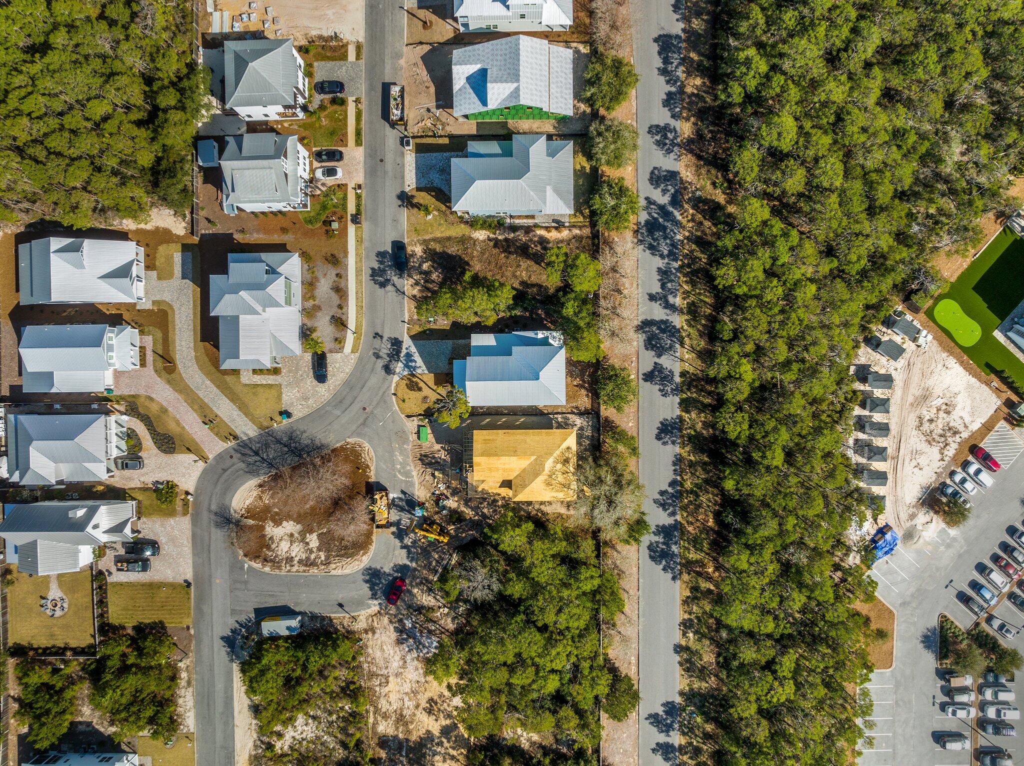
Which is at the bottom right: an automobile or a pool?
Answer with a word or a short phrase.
automobile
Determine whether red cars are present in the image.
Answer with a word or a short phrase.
Yes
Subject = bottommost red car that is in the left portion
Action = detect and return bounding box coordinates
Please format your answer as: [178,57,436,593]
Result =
[385,575,407,608]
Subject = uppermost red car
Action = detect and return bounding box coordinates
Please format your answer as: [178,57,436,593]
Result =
[970,443,1005,473]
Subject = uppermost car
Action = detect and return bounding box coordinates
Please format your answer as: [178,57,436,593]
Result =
[315,79,345,95]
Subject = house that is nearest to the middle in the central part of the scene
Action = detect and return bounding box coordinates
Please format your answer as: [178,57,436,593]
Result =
[453,331,566,406]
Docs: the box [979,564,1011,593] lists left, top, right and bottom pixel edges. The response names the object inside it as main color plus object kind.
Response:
white car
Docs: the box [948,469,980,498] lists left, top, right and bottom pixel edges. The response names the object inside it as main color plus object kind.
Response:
white car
